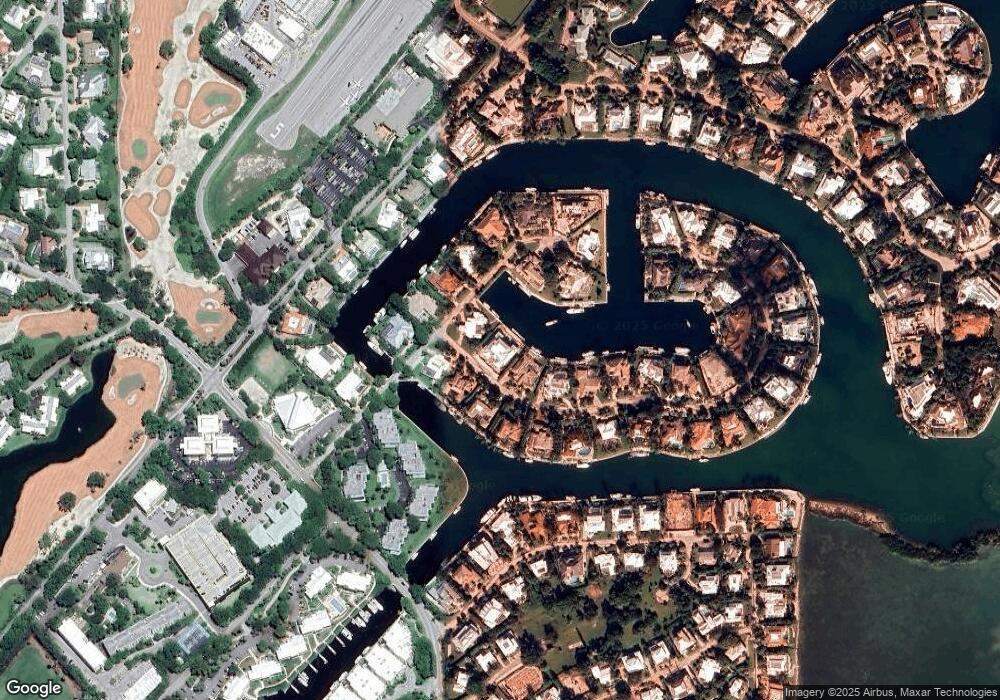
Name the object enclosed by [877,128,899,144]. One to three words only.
swimming pool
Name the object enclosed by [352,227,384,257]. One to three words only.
house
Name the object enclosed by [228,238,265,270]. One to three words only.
building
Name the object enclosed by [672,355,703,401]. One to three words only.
house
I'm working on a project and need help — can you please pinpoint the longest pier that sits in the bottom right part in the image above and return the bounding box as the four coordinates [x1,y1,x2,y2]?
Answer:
[803,498,895,534]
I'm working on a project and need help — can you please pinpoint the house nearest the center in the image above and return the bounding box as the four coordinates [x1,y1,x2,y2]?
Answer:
[479,336,519,372]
